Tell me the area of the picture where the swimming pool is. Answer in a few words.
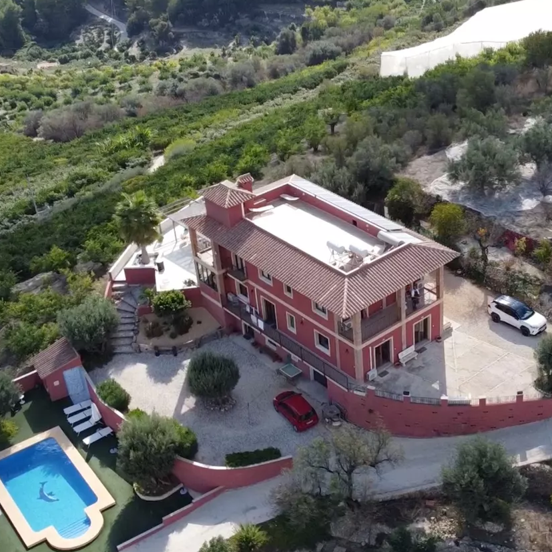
bottom left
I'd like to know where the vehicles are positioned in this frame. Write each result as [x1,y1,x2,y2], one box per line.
[487,291,551,335]
[272,390,320,432]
